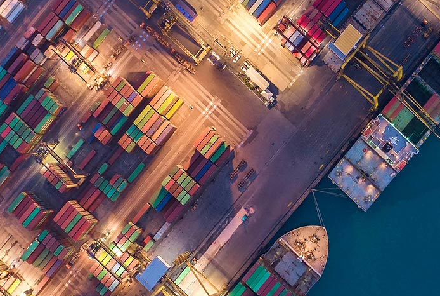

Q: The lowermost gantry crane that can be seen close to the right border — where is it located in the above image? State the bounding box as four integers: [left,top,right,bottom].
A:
[320,24,440,145]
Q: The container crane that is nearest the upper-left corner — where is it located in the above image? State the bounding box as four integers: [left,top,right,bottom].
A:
[51,38,112,91]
